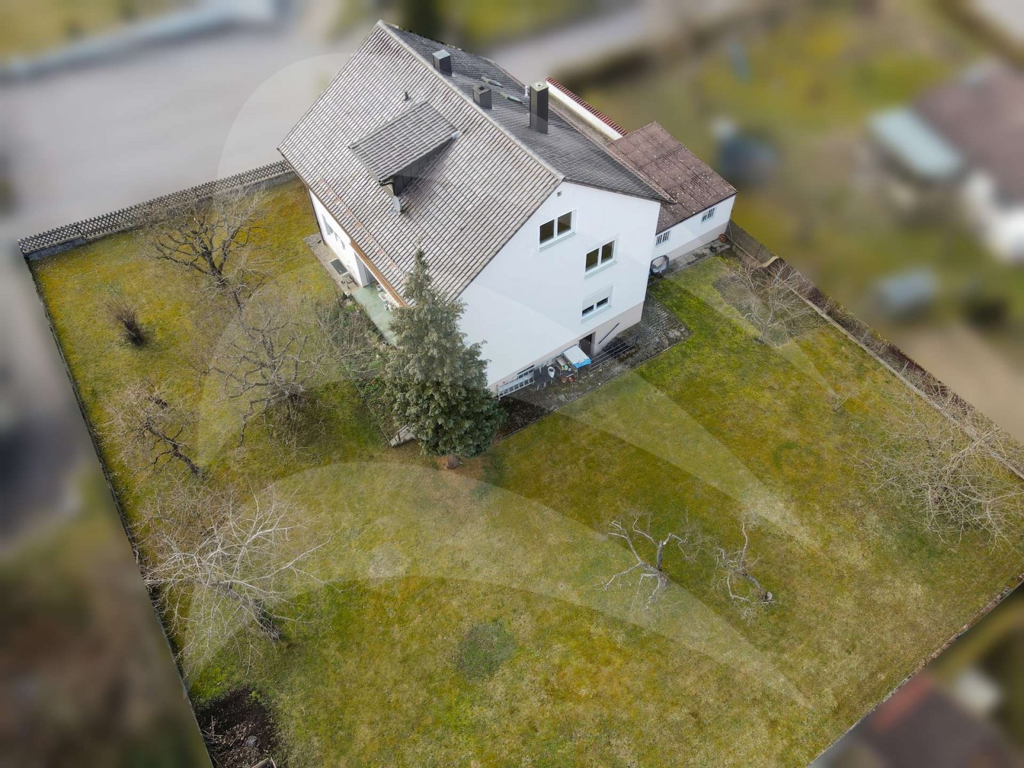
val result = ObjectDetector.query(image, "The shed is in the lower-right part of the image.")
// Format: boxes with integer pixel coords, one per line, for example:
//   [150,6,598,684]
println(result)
[861,661,1024,768]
